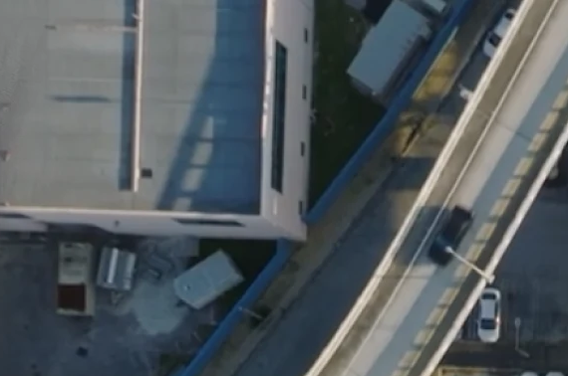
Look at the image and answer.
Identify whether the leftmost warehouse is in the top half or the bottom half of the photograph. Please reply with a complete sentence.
The leftmost warehouse sits in the top half of the picture.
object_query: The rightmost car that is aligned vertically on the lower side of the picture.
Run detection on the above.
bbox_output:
[475,287,501,342]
